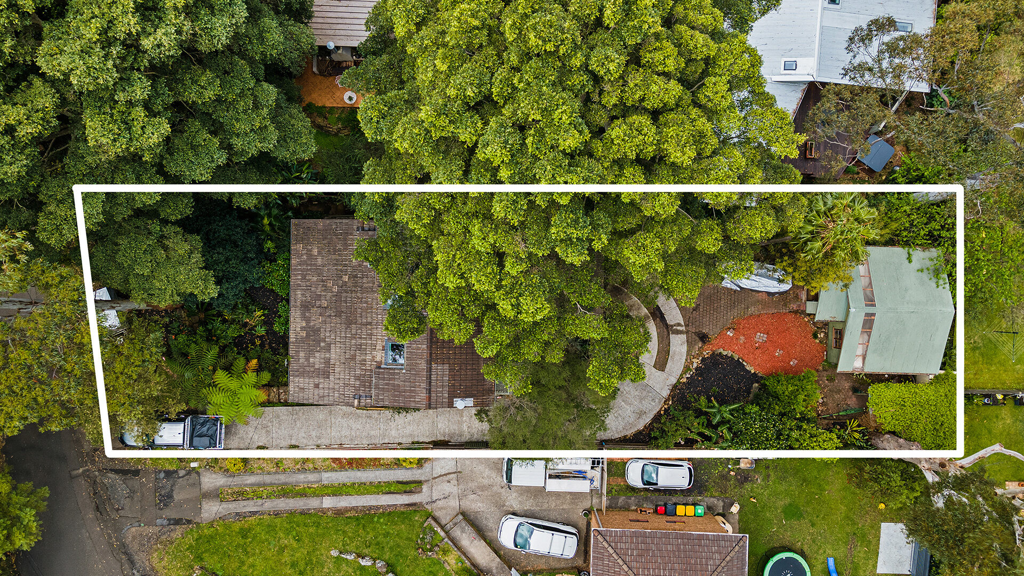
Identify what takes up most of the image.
trees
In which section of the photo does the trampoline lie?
bottom right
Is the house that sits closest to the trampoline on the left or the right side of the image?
right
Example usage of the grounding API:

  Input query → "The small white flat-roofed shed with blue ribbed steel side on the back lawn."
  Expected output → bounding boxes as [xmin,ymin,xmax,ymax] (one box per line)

[876,522,925,576]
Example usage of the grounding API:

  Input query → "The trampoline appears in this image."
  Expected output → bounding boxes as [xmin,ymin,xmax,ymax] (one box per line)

[758,546,811,576]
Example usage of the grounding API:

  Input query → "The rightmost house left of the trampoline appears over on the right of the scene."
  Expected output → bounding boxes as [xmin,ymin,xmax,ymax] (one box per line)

[589,509,750,576]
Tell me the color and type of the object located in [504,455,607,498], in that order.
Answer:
white truck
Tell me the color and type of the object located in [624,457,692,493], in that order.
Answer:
white car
